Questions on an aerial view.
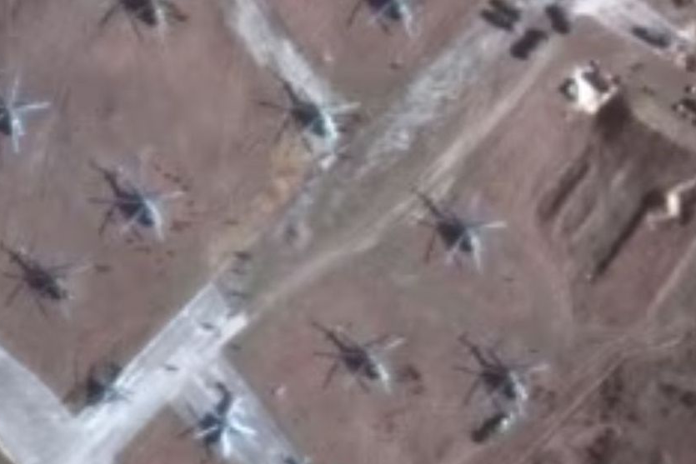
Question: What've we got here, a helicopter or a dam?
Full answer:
Visible in the photo is a helicopter.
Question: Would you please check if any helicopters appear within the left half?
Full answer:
Yes, a helicopter can be seen within the left half.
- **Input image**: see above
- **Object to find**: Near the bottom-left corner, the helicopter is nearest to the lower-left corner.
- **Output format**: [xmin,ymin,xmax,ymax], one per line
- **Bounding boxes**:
[83,355,142,422]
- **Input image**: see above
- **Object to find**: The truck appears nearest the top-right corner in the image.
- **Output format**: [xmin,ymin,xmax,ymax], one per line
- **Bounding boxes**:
[638,23,674,47]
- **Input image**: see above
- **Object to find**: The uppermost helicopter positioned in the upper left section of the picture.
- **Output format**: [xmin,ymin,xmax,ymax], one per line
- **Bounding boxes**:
[120,0,162,33]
